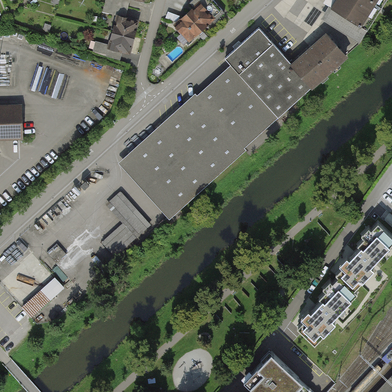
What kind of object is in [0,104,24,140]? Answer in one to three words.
building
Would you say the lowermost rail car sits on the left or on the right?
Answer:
right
